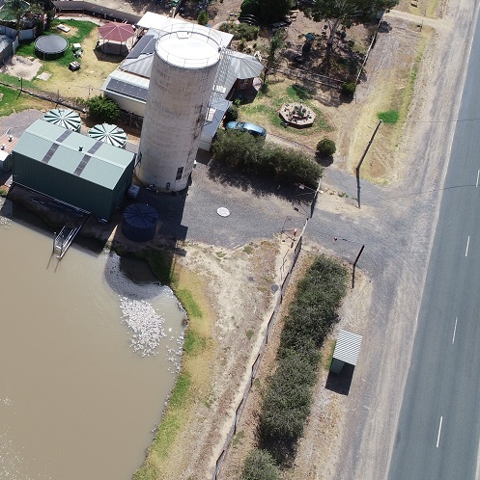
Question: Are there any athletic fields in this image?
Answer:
No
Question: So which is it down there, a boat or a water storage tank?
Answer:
water storage tank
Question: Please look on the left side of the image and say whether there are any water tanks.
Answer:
Yes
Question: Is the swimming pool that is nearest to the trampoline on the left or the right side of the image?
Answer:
left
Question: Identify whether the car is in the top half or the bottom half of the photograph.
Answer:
top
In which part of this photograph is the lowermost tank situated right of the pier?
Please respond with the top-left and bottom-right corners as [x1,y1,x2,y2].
[120,203,160,248]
